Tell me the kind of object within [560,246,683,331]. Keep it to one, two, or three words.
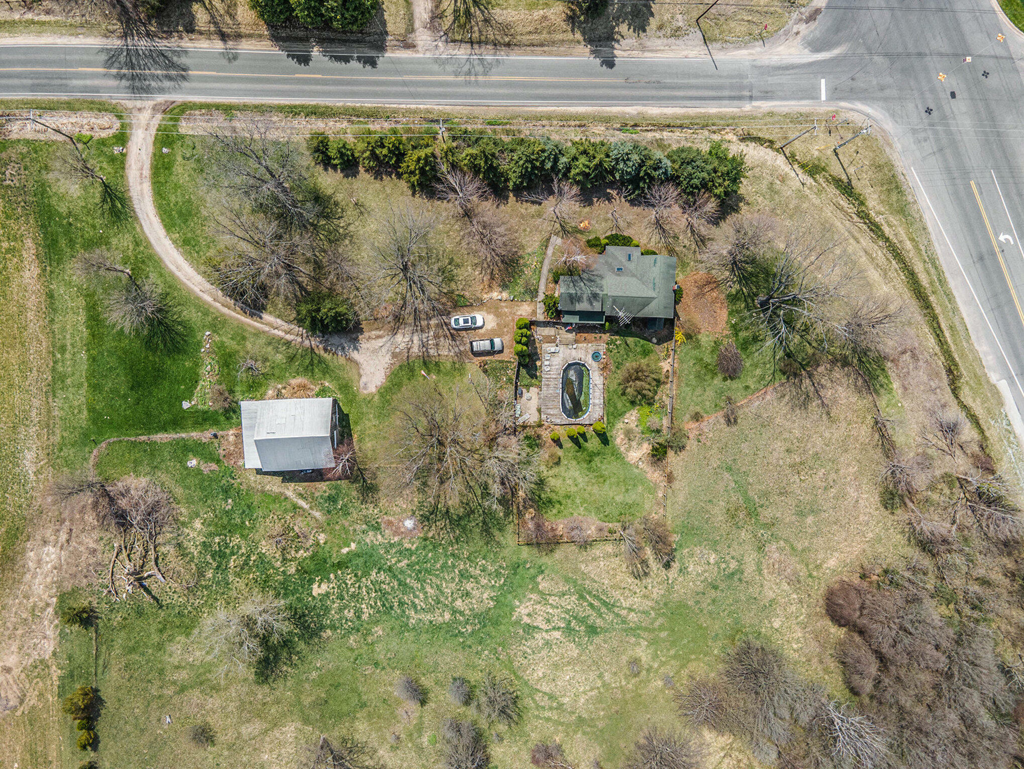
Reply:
house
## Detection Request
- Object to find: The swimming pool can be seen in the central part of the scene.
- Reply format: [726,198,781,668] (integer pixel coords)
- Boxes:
[560,362,592,419]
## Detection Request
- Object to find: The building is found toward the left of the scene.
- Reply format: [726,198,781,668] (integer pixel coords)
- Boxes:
[240,398,340,471]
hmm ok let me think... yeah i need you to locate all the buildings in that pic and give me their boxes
[240,398,340,471]
[560,246,683,331]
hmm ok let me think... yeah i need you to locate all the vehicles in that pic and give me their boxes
[471,338,504,353]
[451,314,484,330]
